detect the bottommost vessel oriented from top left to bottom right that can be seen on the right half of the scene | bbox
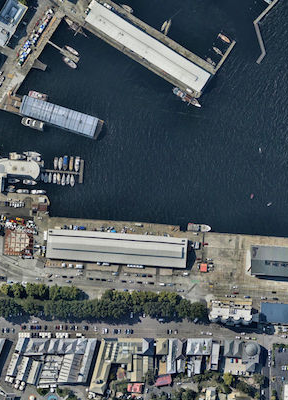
[173,86,200,106]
